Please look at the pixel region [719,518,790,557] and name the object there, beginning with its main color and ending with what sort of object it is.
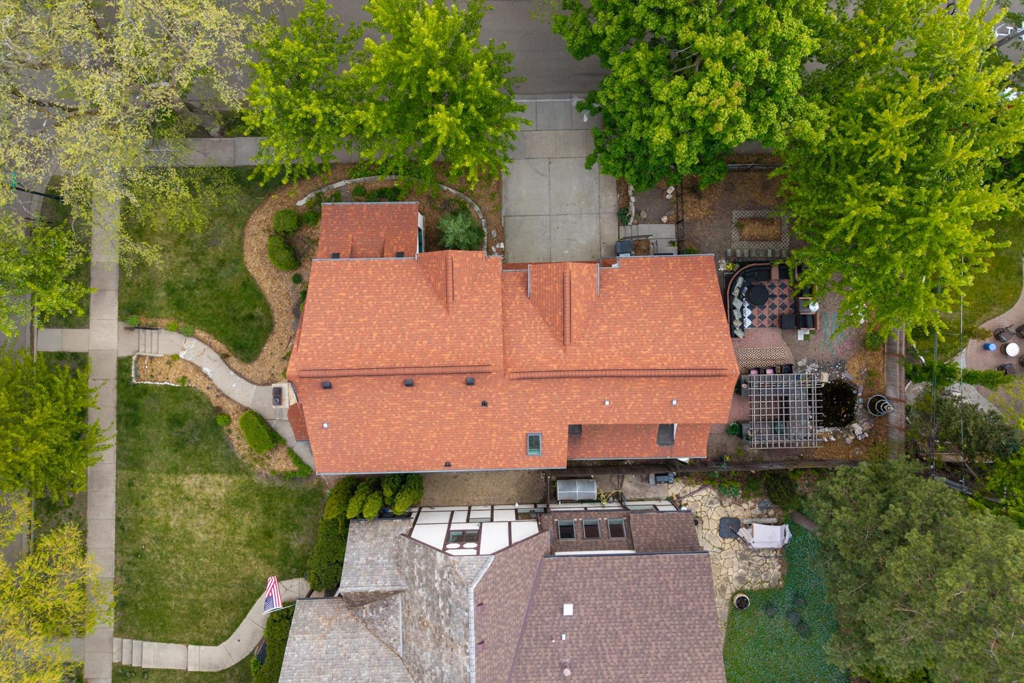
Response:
white umbrella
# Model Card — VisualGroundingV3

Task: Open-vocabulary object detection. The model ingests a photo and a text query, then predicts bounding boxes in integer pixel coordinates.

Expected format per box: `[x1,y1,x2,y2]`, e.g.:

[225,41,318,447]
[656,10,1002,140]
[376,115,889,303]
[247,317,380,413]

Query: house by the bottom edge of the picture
[279,497,725,683]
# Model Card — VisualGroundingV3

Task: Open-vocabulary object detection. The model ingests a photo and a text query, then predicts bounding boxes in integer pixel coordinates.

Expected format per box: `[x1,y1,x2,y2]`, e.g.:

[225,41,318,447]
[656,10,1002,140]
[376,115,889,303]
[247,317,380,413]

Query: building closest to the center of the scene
[271,200,739,476]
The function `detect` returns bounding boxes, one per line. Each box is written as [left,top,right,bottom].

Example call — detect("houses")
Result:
[279,497,725,683]
[271,200,739,476]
